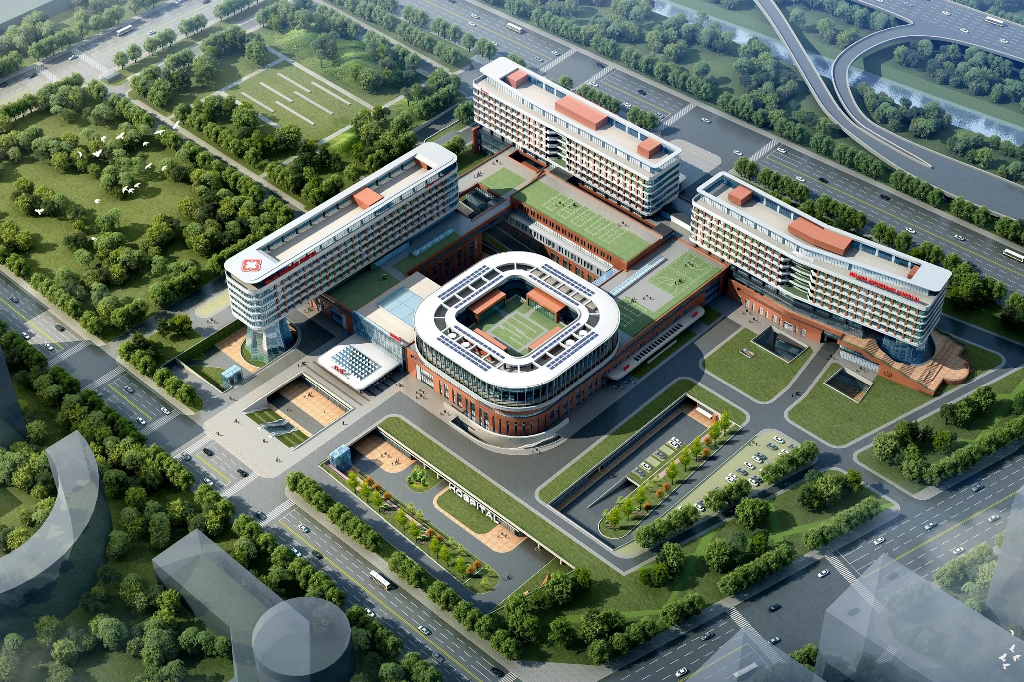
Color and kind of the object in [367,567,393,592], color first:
white bus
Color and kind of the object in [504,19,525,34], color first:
white vehicle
